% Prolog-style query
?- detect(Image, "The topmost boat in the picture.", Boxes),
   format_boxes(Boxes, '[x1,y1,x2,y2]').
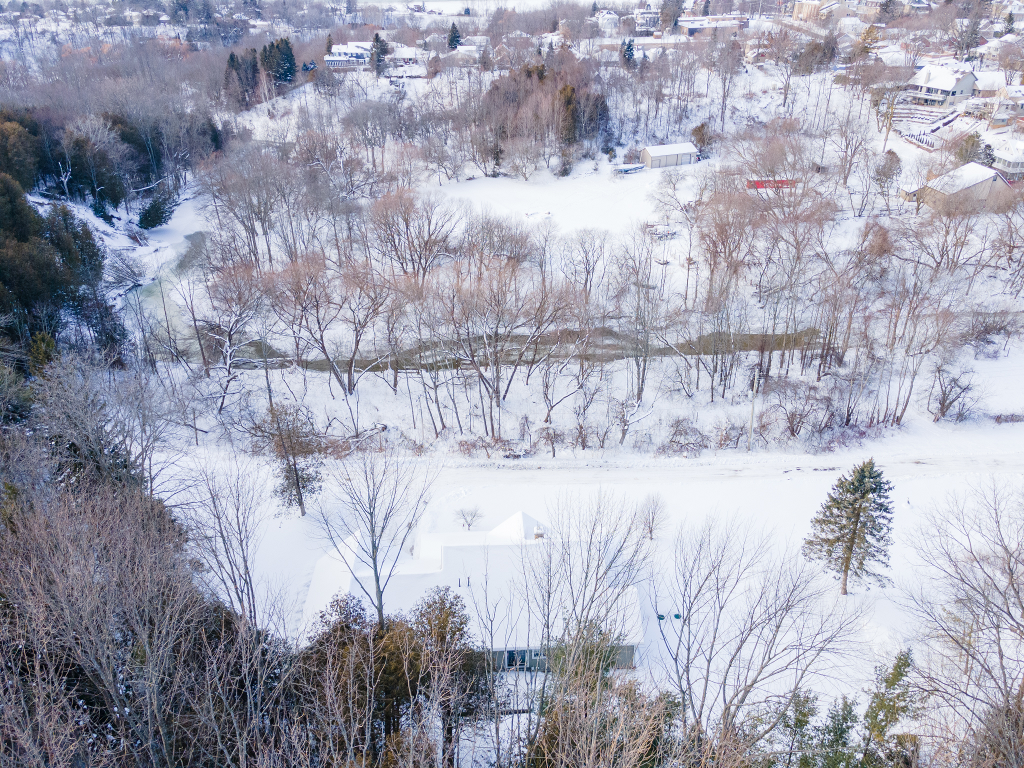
[614,160,648,173]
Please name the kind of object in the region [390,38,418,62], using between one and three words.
house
